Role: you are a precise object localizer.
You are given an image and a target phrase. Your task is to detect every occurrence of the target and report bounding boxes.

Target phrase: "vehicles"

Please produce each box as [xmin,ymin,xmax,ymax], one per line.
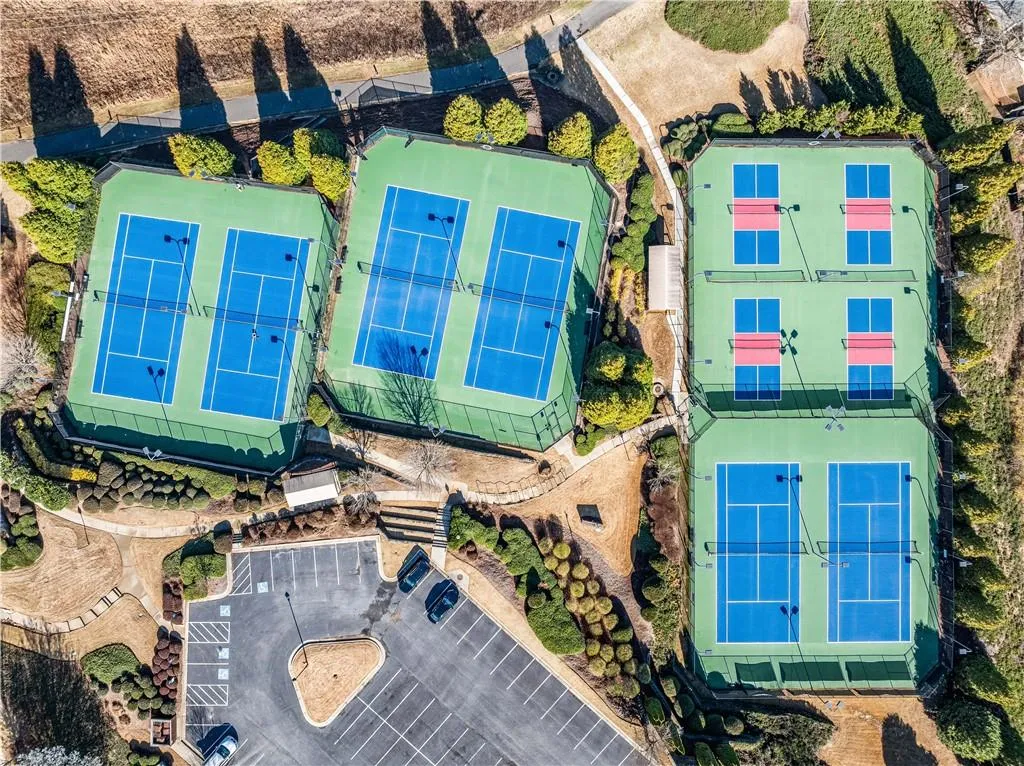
[426,585,461,623]
[397,555,433,593]
[202,734,239,766]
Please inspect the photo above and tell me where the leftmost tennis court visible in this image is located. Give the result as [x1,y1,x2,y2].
[65,170,221,456]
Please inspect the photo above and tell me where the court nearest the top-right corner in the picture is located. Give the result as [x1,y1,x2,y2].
[813,147,936,281]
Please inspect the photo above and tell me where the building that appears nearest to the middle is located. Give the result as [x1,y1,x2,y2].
[645,246,682,311]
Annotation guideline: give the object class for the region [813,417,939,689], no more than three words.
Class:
tennis court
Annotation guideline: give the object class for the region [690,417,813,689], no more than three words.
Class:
tennis court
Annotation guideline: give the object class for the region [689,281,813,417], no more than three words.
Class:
sports court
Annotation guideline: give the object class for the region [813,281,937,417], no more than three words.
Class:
sports court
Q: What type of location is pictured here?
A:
sports ground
